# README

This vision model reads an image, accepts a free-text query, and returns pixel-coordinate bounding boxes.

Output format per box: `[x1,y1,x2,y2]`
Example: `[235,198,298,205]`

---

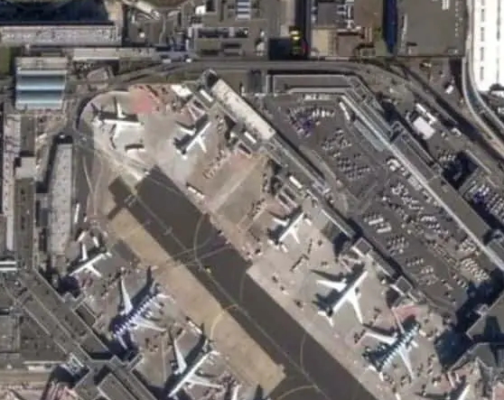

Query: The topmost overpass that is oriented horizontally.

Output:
[66,57,374,101]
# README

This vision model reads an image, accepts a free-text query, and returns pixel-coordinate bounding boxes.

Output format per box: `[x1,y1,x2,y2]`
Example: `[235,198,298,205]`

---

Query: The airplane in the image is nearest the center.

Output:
[271,213,304,247]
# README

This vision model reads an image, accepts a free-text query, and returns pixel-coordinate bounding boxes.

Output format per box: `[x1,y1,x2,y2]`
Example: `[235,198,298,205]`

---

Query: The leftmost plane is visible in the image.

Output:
[68,248,110,278]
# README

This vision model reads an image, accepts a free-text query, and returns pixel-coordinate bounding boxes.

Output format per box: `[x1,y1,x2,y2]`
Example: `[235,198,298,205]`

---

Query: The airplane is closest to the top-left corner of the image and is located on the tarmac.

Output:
[93,101,144,144]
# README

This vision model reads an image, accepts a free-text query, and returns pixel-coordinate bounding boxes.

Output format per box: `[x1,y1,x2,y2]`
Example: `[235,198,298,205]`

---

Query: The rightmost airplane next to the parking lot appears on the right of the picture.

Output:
[366,325,418,379]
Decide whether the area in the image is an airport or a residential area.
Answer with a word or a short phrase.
airport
